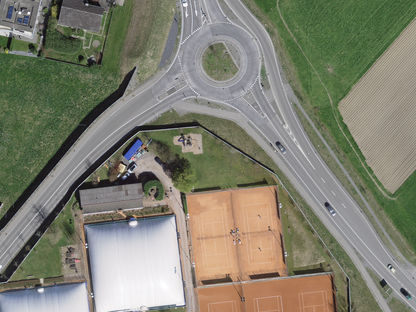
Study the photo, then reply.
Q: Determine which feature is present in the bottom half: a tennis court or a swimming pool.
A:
tennis court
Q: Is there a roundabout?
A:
Yes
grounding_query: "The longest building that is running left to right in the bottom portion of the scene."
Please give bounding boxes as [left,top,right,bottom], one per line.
[80,182,144,215]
